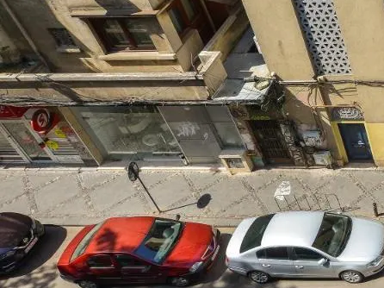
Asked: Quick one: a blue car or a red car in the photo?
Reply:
red car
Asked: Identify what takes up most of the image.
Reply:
buildings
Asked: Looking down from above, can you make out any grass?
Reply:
No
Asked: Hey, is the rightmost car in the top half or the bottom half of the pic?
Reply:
bottom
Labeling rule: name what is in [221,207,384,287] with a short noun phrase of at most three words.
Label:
car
